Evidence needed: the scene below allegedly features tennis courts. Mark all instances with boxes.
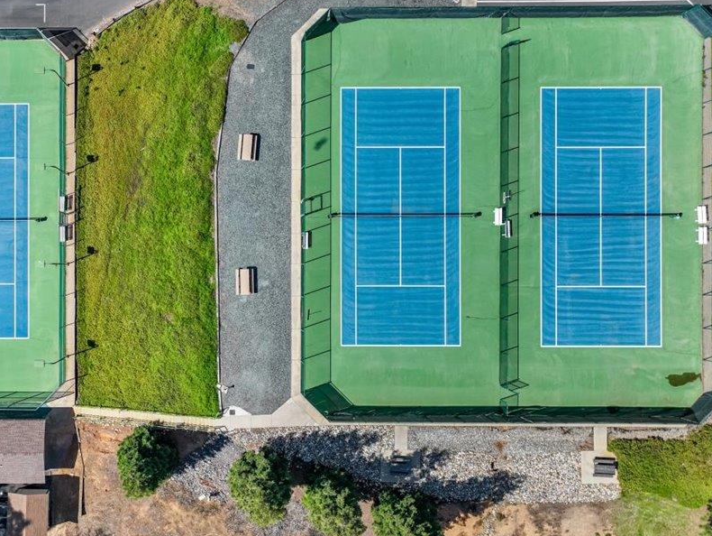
[501,20,702,413]
[304,20,501,413]
[0,41,63,400]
